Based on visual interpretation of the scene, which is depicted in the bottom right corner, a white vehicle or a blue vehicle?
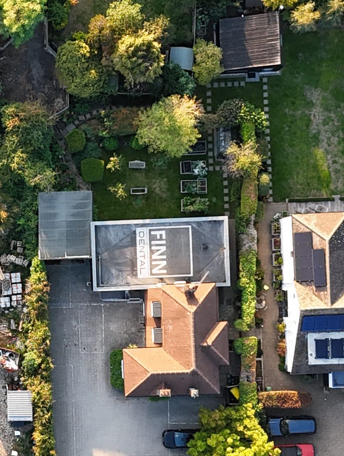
blue vehicle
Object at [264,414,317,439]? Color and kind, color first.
blue car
